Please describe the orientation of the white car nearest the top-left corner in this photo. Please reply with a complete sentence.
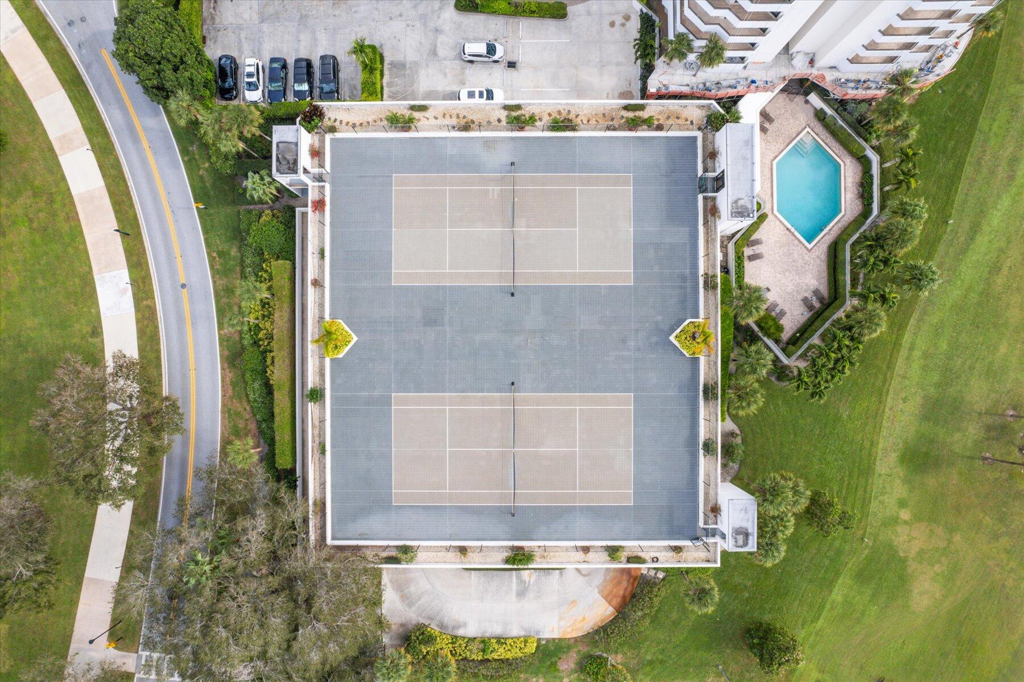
The white car nearest the top-left corner is oriented up and down.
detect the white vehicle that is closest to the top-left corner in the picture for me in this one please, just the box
[240,55,263,102]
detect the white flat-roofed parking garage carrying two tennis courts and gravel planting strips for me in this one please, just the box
[273,101,757,566]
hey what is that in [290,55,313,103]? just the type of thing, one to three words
car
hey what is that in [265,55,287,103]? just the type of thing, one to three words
car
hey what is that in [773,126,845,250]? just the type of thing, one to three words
swimming pool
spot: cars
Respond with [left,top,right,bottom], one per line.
[316,52,339,101]
[214,53,237,100]
[265,55,287,103]
[457,82,504,101]
[240,55,263,102]
[461,39,504,61]
[290,55,313,103]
